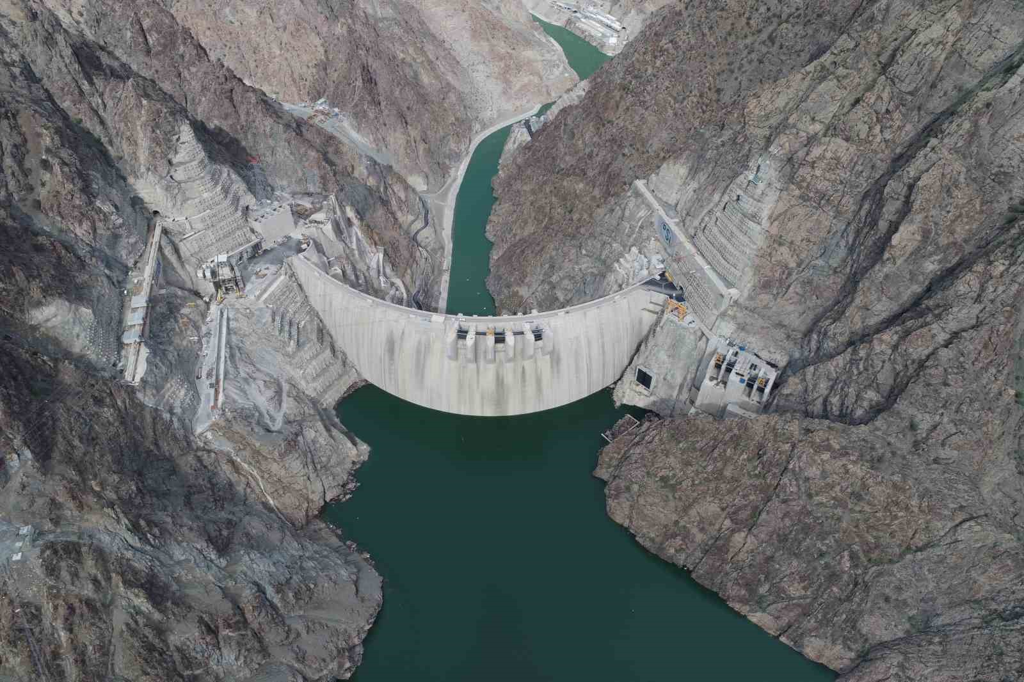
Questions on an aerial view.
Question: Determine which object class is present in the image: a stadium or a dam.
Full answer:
Visible in the photo is a dam.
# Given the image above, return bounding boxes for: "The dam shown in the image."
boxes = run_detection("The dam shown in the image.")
[282,246,666,416]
